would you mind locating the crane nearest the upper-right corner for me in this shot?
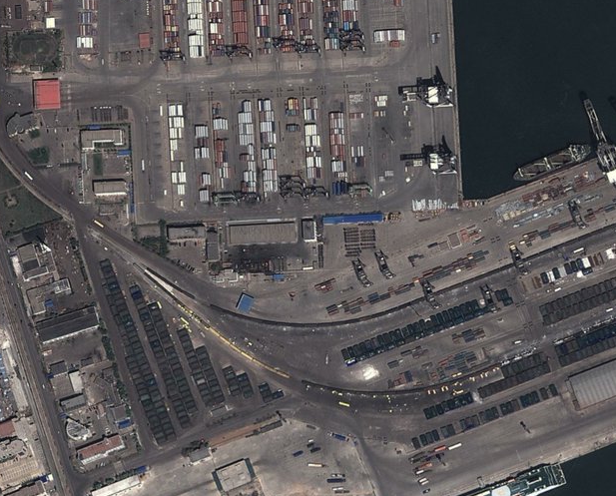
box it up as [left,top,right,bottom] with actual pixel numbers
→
[584,103,616,188]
